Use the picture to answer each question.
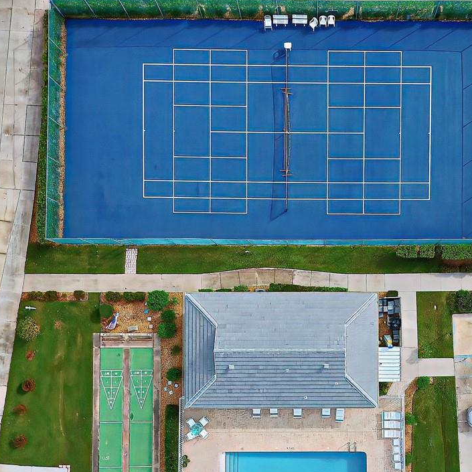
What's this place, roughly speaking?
sports ground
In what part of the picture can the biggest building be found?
bottom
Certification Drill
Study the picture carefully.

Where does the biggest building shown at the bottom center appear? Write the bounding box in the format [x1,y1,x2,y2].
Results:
[182,291,380,410]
